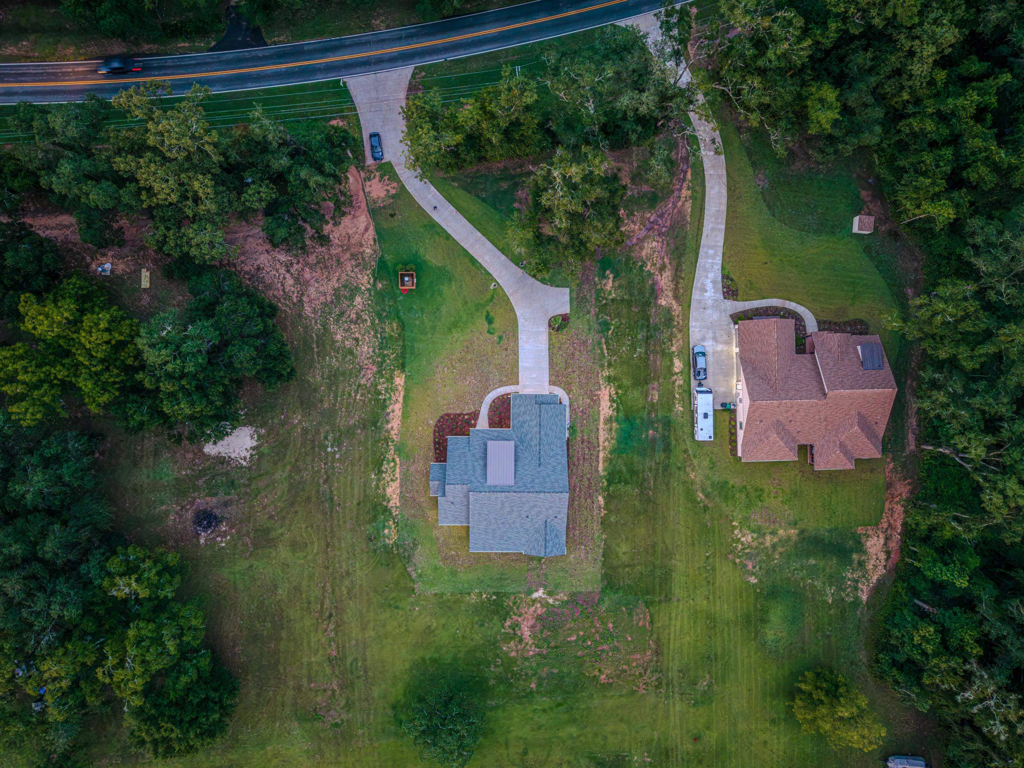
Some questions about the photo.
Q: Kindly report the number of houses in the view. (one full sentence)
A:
My tally gives 2 houses in this view.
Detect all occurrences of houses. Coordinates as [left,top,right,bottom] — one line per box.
[429,394,569,557]
[733,315,899,471]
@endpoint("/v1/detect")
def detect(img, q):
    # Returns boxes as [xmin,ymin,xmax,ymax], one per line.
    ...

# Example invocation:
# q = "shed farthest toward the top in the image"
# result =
[852,214,875,233]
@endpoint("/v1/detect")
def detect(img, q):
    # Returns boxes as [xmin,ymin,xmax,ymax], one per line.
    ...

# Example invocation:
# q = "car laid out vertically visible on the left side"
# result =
[370,131,385,162]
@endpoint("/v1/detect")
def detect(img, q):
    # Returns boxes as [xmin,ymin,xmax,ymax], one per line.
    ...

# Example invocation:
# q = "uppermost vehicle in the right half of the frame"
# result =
[692,345,707,381]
